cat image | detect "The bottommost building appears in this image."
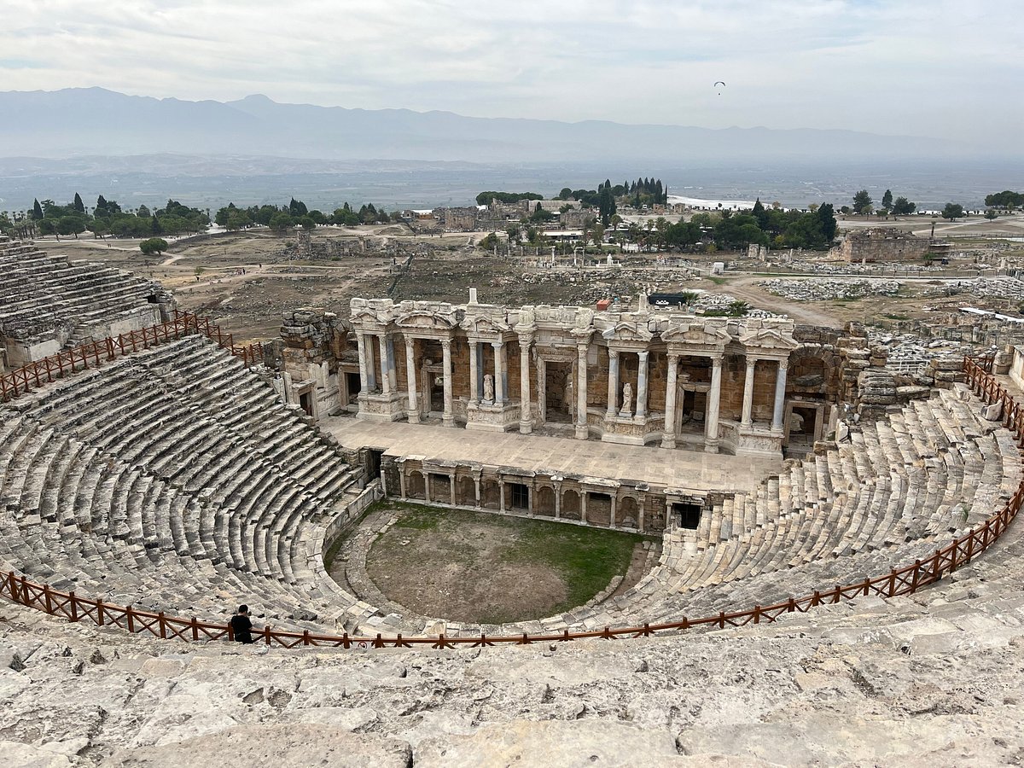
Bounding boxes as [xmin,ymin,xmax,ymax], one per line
[345,285,812,458]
